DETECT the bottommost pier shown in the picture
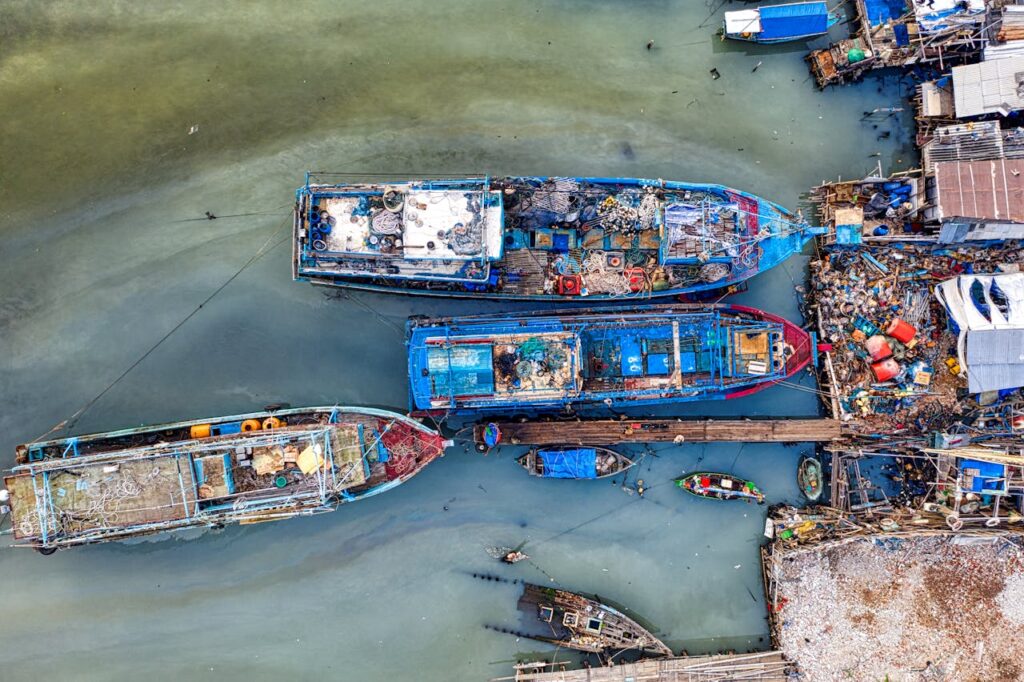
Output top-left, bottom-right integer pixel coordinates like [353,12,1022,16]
[505,648,784,682]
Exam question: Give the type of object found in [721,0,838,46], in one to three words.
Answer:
boat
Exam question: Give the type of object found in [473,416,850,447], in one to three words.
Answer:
pier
